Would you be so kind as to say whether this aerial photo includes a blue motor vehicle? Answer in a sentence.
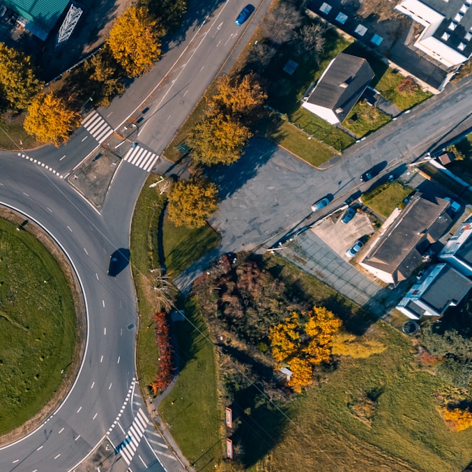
Yes, I can see a blue motor vehicle in this picture.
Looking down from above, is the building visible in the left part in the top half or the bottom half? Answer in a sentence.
The building visible in the left part sits in the top half of the picture.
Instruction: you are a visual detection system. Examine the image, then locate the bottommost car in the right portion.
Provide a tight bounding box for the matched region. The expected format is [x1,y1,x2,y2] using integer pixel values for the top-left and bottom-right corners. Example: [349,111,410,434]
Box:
[344,239,365,257]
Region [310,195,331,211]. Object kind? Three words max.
car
